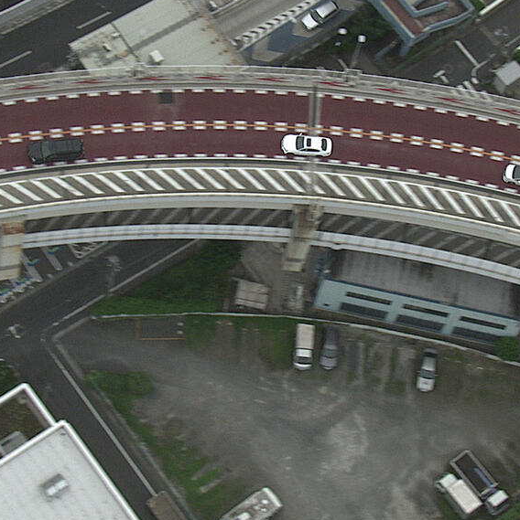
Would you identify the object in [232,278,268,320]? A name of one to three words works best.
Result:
shed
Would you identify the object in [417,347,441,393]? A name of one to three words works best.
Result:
car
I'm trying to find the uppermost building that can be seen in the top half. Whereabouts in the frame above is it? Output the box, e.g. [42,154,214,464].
[66,0,244,69]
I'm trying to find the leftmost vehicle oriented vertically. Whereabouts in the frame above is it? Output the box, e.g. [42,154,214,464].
[294,320,316,370]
